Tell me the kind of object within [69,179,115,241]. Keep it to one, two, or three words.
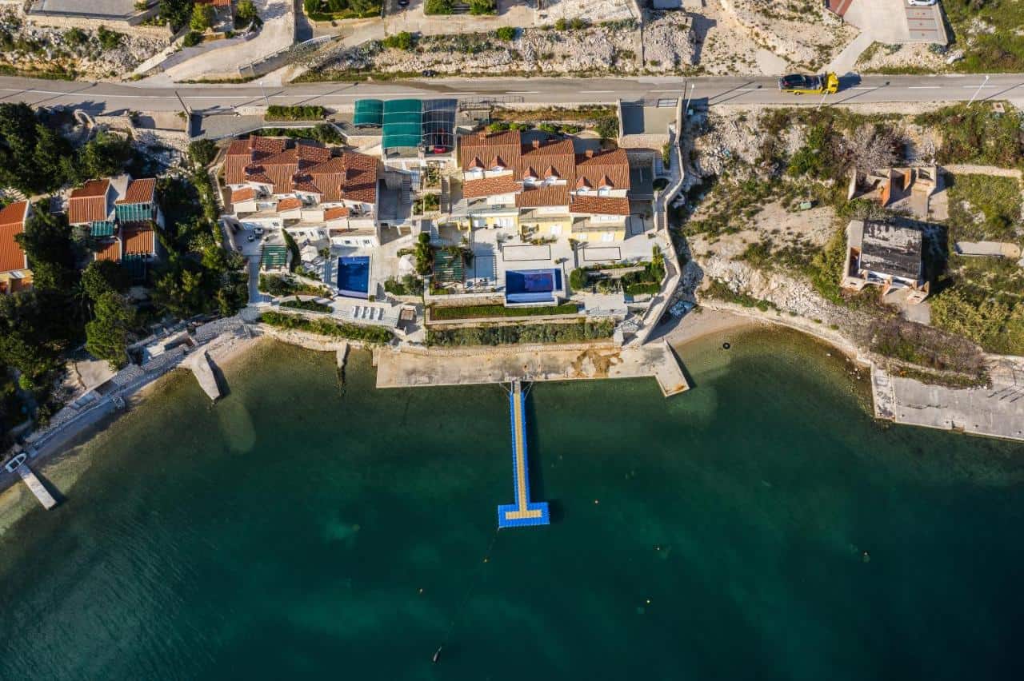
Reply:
house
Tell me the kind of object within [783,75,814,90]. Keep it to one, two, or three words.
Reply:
car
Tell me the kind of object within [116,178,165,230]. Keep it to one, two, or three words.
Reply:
house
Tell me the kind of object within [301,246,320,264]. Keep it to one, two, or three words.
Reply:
umbrella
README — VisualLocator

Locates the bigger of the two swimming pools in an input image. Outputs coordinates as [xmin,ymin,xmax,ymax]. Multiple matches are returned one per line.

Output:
[503,266,565,311]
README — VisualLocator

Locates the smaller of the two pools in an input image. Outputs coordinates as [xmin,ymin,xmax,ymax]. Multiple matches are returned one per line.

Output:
[335,253,372,300]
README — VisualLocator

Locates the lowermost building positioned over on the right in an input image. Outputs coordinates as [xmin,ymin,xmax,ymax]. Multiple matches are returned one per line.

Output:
[613,321,639,351]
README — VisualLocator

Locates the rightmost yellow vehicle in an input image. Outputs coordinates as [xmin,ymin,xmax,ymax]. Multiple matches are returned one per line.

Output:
[780,75,838,95]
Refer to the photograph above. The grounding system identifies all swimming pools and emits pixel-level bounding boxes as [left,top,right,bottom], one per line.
[335,253,372,300]
[503,266,565,311]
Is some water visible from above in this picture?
Yes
